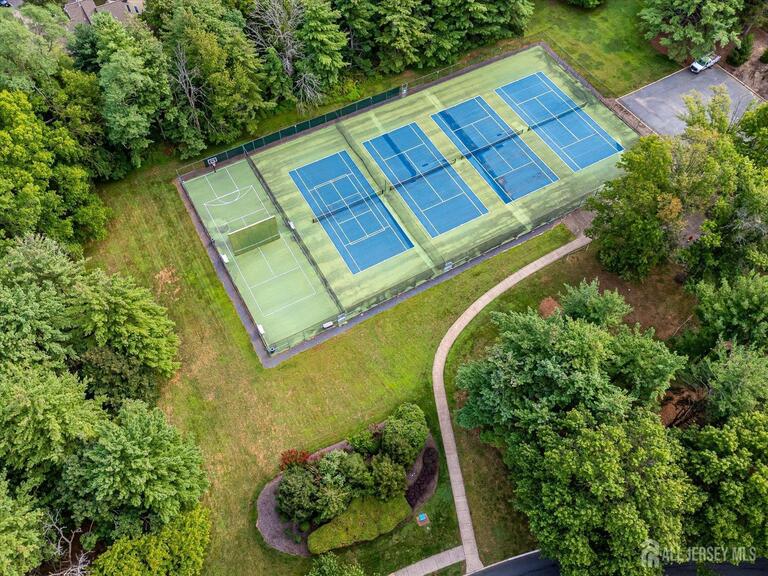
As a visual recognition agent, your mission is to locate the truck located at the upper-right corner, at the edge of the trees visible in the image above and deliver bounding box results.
[685,53,720,76]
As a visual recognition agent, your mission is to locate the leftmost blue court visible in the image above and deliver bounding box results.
[288,149,415,275]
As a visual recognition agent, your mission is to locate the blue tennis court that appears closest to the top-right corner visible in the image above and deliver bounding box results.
[495,71,624,172]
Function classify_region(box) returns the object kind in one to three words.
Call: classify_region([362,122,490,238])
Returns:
tennis court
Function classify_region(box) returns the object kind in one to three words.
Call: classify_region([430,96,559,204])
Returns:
tennis court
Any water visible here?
No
